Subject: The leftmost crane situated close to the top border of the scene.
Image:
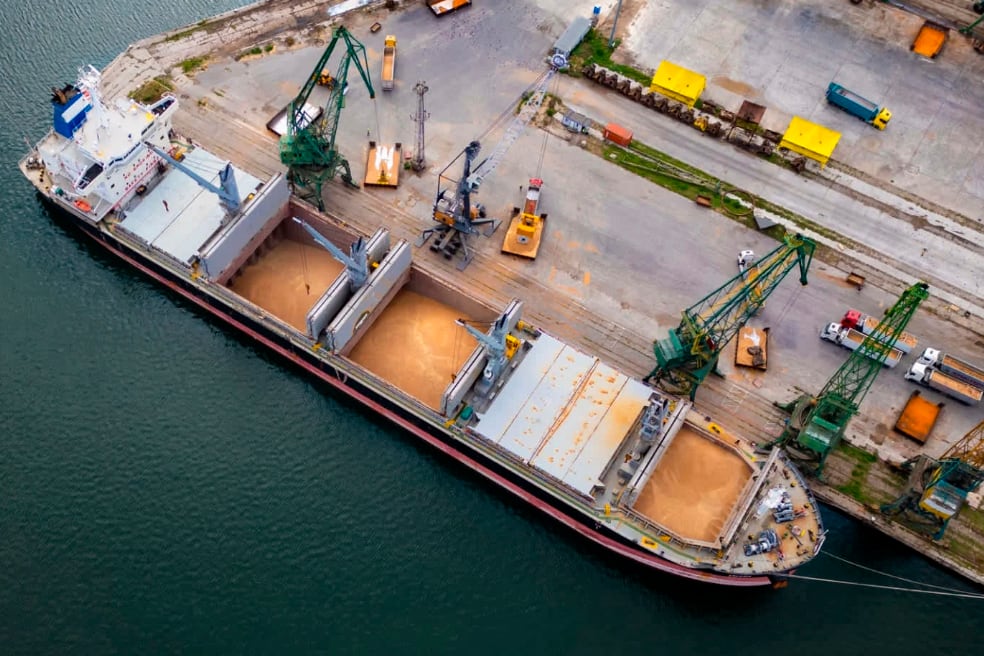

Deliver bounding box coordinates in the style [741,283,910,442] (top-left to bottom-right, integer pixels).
[271,23,382,210]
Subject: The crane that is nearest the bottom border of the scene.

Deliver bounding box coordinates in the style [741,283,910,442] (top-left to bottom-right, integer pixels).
[881,434,984,550]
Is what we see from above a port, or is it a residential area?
port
